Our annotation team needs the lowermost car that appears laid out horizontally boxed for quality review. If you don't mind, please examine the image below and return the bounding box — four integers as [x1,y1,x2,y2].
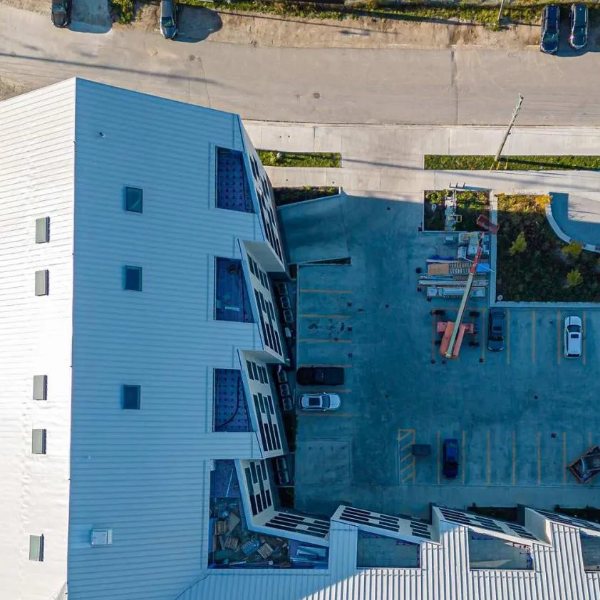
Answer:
[299,392,341,412]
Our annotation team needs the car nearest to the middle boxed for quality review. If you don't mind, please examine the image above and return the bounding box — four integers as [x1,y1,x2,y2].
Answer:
[296,365,346,386]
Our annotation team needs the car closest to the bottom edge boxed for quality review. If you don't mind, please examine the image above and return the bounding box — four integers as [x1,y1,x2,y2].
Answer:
[441,437,461,478]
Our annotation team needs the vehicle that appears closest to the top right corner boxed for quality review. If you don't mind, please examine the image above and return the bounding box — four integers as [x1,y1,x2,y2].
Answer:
[568,3,590,50]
